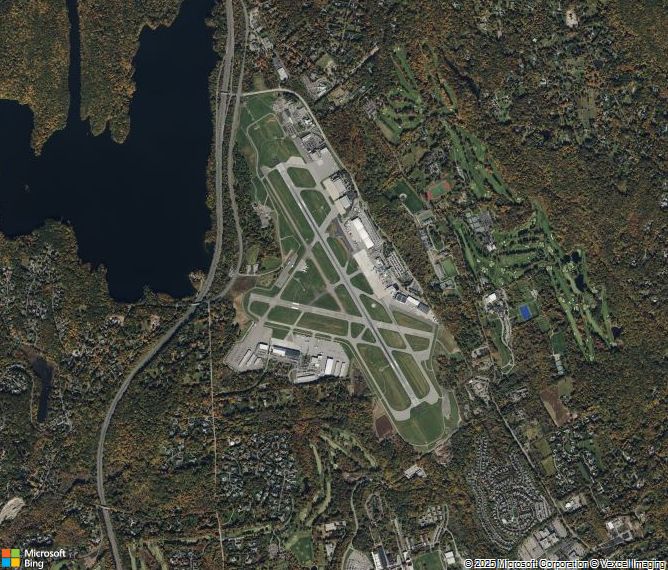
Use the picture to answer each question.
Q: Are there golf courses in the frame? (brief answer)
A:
Yes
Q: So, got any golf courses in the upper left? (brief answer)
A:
No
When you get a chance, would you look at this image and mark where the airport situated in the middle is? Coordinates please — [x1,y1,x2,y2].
[223,91,460,453]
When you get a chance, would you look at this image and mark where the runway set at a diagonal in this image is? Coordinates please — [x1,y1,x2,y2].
[277,162,421,405]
